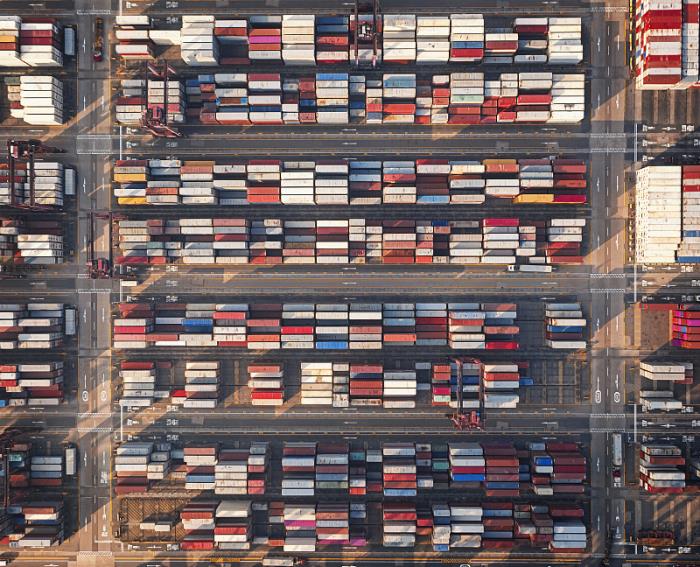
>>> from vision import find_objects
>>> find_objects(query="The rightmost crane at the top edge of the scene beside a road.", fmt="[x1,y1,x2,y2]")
[347,0,382,71]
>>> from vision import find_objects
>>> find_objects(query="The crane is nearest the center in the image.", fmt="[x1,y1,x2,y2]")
[445,356,484,429]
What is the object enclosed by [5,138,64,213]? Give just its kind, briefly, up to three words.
container crane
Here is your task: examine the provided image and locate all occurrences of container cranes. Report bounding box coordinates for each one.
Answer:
[5,138,64,213]
[347,0,382,71]
[139,58,188,137]
[445,356,484,429]
[84,209,137,279]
